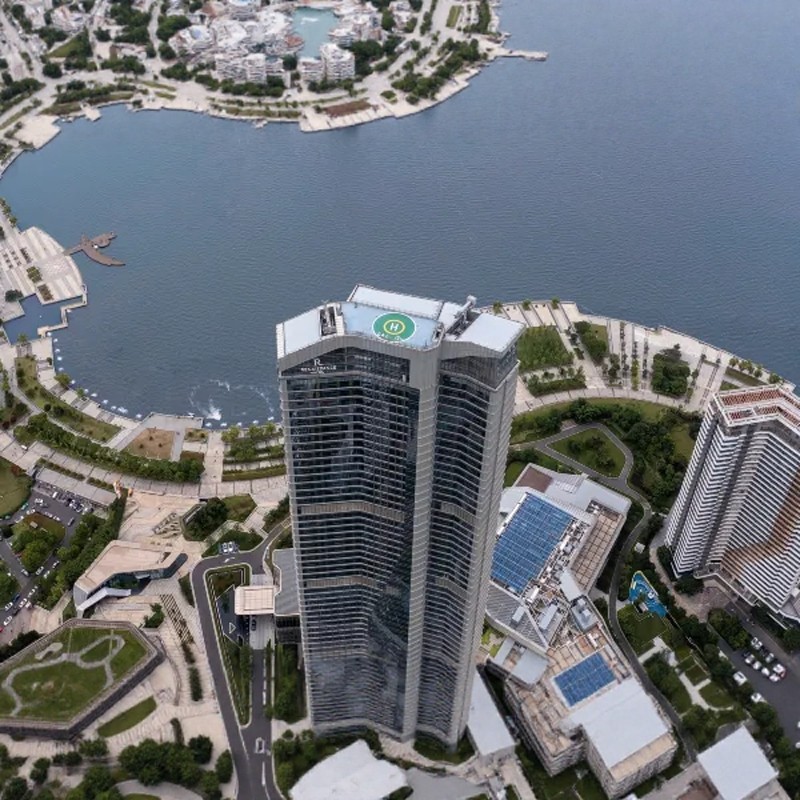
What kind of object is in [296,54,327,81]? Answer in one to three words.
house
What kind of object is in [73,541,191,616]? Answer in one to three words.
building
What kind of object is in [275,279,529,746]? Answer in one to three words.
building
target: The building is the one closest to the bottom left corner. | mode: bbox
[0,619,165,736]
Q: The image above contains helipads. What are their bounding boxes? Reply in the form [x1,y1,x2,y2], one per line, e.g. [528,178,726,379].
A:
[373,312,417,340]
